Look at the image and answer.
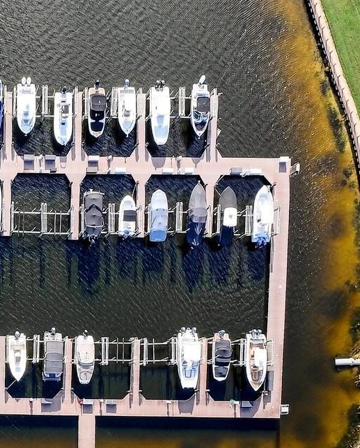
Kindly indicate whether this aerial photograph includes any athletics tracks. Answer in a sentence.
No, the photo shows no athletics track.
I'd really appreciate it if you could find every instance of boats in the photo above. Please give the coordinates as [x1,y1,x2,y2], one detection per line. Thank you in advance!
[117,81,135,138]
[9,329,26,383]
[246,327,266,392]
[148,189,167,243]
[42,326,64,380]
[17,76,36,135]
[82,191,103,246]
[212,326,233,380]
[251,183,273,251]
[88,81,107,137]
[177,328,200,388]
[218,185,237,246]
[190,77,211,140]
[186,181,206,249]
[75,329,95,384]
[150,80,170,145]
[53,85,73,145]
[119,195,136,243]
